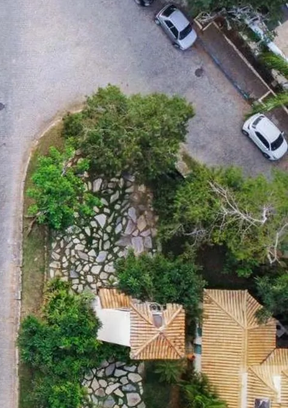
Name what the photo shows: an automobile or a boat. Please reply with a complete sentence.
There is an automobile in the scene.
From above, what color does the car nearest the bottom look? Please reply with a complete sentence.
From above, the car nearest the bottom appears white.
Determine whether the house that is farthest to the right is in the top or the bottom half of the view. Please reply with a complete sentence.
The house that is farthest to the right sits in the top half of the picture.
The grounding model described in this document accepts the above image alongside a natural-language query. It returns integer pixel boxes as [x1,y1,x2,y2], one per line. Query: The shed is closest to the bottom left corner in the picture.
[81,289,188,360]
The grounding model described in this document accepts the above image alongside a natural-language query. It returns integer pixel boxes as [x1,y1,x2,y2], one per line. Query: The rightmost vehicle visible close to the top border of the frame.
[152,1,197,52]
